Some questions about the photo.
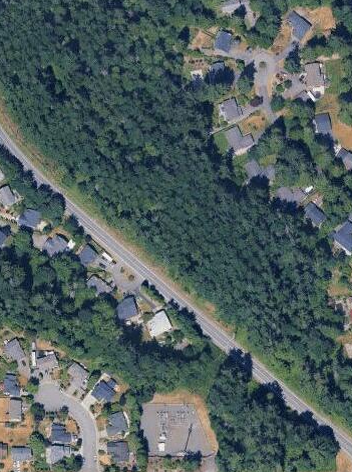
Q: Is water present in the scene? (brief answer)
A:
No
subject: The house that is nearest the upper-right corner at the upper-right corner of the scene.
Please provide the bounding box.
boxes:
[286,10,313,37]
